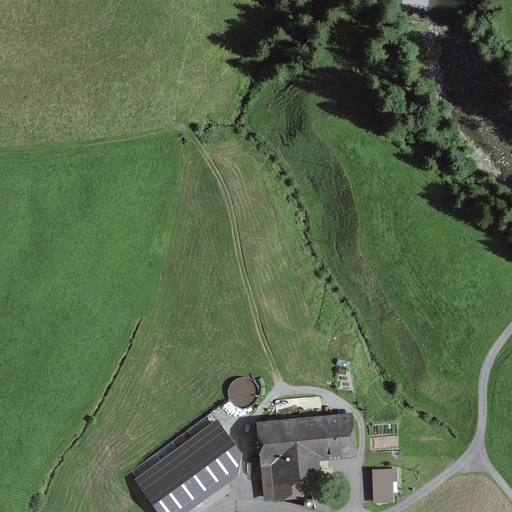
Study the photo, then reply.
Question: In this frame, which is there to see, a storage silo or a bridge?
storage silo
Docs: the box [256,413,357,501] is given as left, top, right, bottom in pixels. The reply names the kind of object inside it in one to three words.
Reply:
house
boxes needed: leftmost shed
[136,421,242,512]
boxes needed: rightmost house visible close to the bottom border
[372,467,401,506]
